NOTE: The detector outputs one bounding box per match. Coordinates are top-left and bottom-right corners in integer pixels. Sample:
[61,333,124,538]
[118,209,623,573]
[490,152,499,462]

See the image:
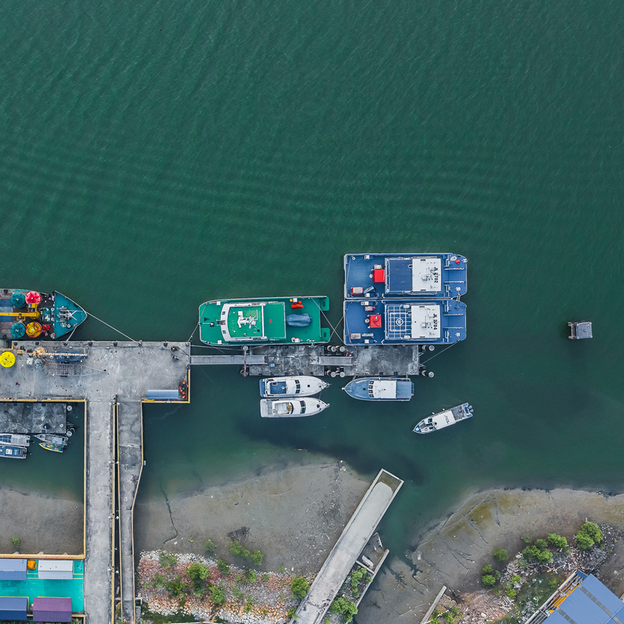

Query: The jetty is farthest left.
[0,403,75,436]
